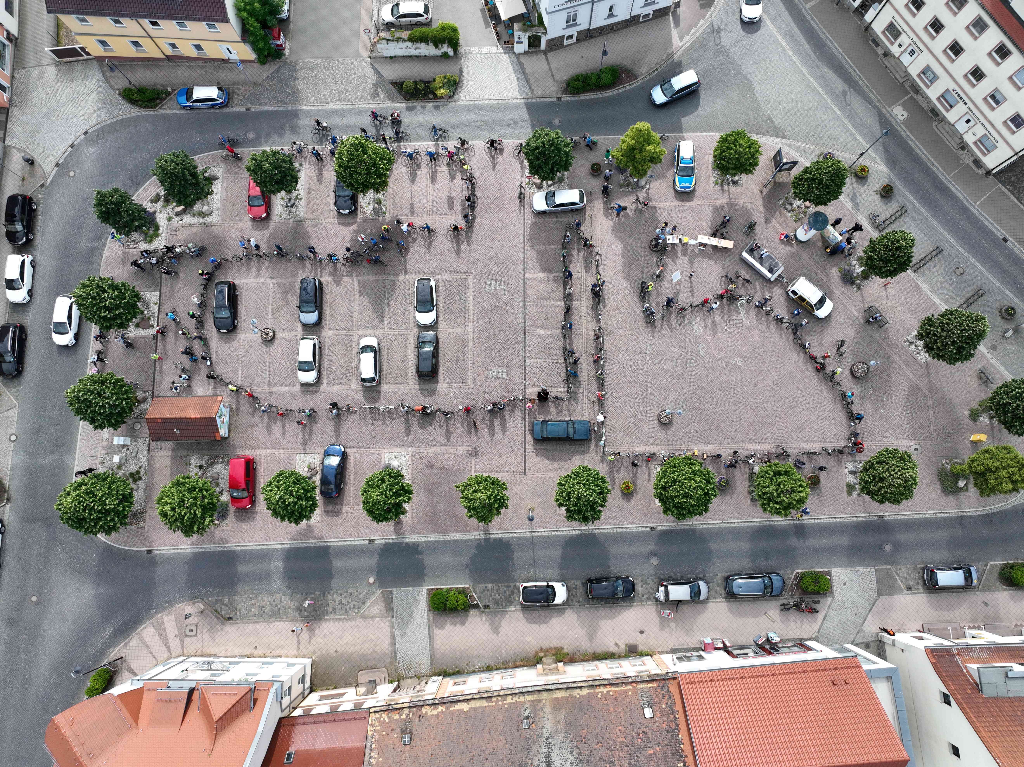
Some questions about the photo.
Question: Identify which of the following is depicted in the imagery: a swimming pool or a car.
car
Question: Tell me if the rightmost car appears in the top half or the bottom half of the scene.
bottom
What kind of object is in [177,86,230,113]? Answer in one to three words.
car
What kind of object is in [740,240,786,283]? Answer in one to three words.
trailer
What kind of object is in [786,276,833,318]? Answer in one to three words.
car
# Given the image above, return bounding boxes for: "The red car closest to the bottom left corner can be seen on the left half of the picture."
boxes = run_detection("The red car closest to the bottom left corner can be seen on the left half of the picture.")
[226,456,255,508]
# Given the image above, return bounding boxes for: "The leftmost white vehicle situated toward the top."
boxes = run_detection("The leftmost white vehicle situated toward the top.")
[6,255,39,304]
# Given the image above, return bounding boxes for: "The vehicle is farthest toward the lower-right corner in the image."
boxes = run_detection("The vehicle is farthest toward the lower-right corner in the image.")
[922,566,978,592]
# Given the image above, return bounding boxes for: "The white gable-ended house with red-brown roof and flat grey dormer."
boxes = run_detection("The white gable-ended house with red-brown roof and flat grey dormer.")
[880,610,1024,767]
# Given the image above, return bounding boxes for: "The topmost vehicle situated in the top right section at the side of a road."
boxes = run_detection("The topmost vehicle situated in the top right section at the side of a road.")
[740,0,763,21]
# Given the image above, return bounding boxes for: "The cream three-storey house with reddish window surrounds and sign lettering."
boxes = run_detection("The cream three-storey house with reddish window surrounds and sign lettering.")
[866,0,1024,173]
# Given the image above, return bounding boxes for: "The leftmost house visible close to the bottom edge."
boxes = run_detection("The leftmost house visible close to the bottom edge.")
[39,647,313,767]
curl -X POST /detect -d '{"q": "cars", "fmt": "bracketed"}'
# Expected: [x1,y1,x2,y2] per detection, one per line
[1,195,37,246]
[786,276,833,318]
[413,277,437,326]
[177,86,230,113]
[50,295,81,345]
[586,575,635,601]
[673,140,699,192]
[243,169,270,219]
[533,417,591,442]
[520,581,567,606]
[415,332,439,379]
[655,578,709,613]
[532,188,586,215]
[226,456,255,508]
[210,282,238,332]
[6,255,39,304]
[296,278,323,325]
[320,444,346,497]
[294,337,321,384]
[355,337,382,386]
[922,566,978,592]
[0,324,31,376]
[331,160,357,214]
[381,1,431,26]
[740,0,763,21]
[649,71,704,109]
[724,571,785,600]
